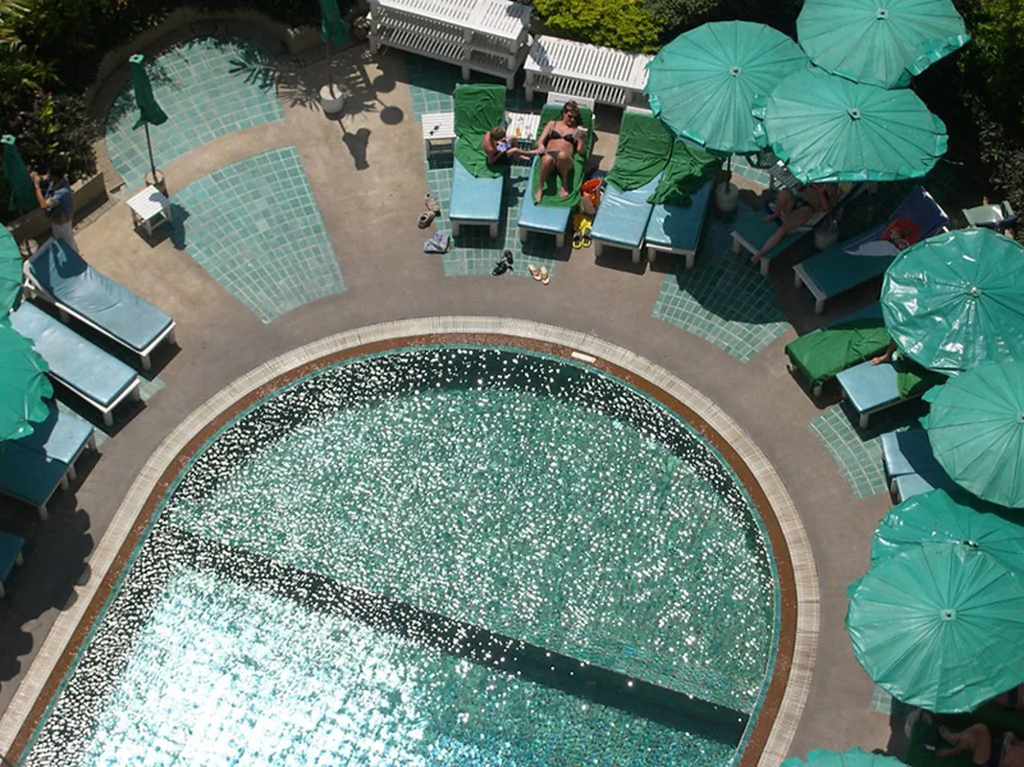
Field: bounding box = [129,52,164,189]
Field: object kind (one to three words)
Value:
umbrella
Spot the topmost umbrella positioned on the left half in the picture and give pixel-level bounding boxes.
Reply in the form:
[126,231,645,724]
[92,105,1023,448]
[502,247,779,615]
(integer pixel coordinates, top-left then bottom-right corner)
[315,0,346,110]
